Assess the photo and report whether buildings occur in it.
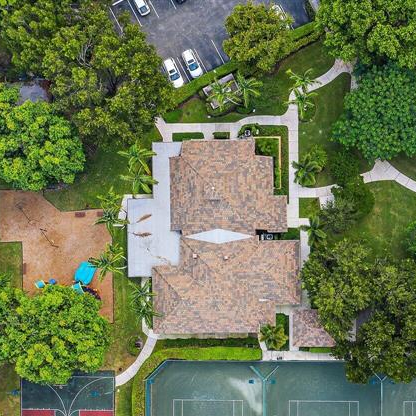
Yes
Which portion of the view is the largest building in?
center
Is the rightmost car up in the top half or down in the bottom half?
top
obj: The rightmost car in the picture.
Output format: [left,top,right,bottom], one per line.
[181,45,204,78]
